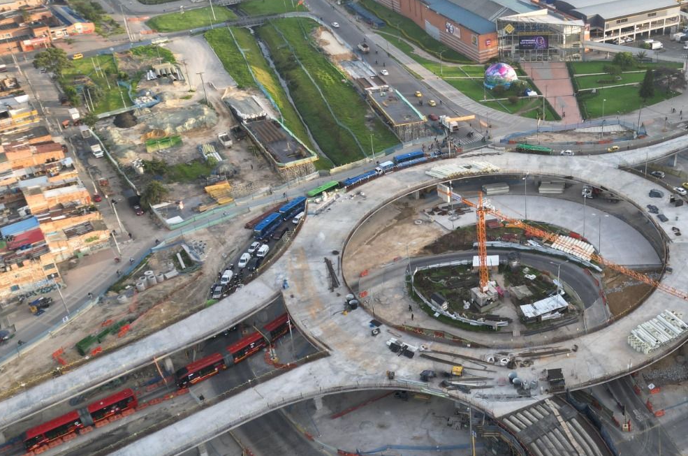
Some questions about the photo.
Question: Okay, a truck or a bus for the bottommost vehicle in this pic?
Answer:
bus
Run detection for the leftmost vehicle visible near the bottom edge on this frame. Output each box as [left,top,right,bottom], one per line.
[23,395,138,454]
